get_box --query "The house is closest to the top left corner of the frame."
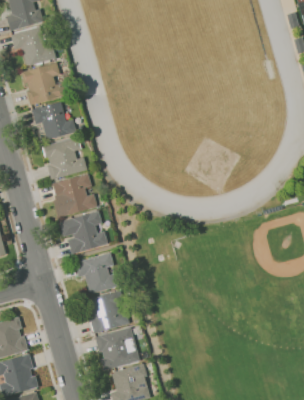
[6,0,44,32]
